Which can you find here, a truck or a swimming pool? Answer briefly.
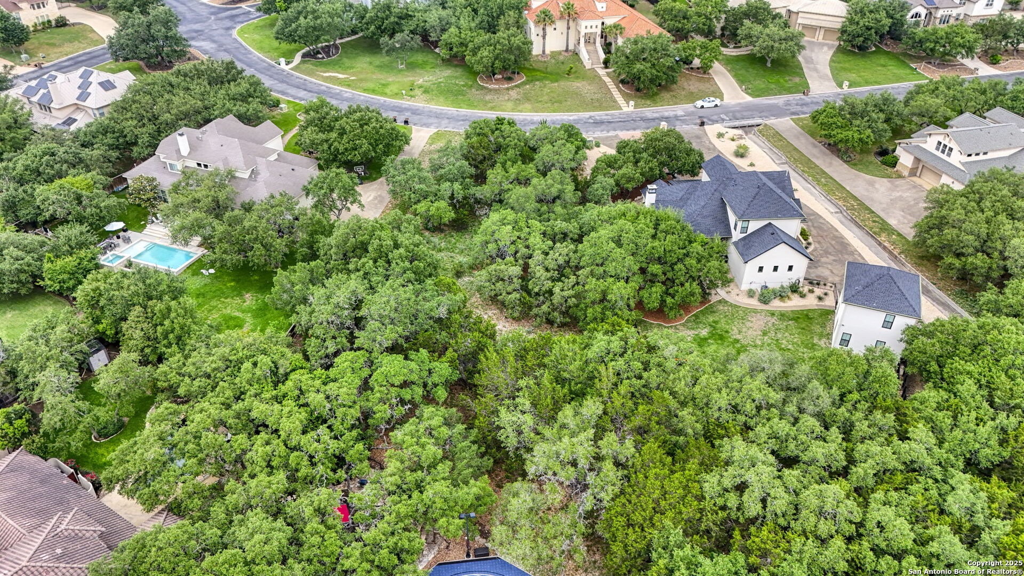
swimming pool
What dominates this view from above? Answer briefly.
trees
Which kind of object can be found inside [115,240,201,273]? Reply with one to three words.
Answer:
swimming pool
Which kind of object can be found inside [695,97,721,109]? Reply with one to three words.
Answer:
vehicle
